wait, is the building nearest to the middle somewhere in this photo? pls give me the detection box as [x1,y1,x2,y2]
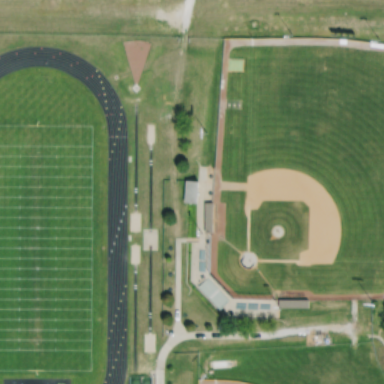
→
[184,182,198,206]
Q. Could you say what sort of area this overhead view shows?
sports ground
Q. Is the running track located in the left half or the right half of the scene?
left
